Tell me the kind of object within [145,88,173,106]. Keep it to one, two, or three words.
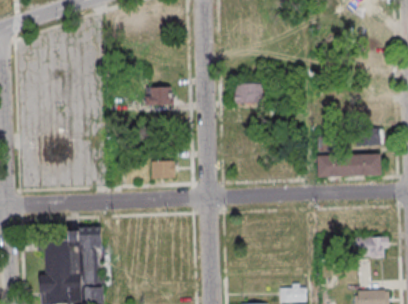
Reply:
house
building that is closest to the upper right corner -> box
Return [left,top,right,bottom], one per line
[354,130,386,150]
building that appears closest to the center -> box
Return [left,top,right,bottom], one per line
[152,162,178,180]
